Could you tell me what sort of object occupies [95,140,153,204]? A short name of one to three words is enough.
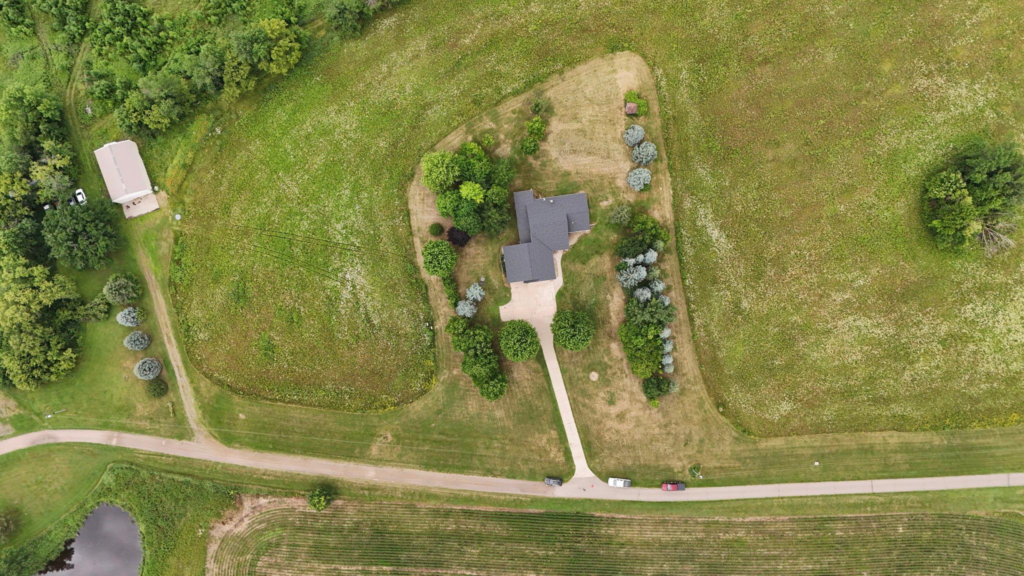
barn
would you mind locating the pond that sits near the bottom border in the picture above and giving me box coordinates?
[37,501,144,576]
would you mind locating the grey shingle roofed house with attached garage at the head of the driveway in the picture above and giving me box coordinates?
[503,190,590,284]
